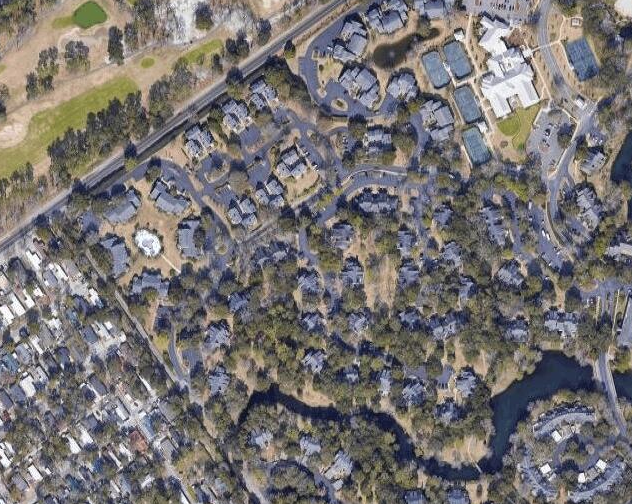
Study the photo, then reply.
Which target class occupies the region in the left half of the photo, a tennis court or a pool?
pool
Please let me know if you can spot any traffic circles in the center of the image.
No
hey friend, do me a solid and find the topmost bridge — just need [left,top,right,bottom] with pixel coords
[597,351,621,402]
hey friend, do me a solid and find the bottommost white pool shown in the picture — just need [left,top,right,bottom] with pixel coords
[134,229,161,257]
